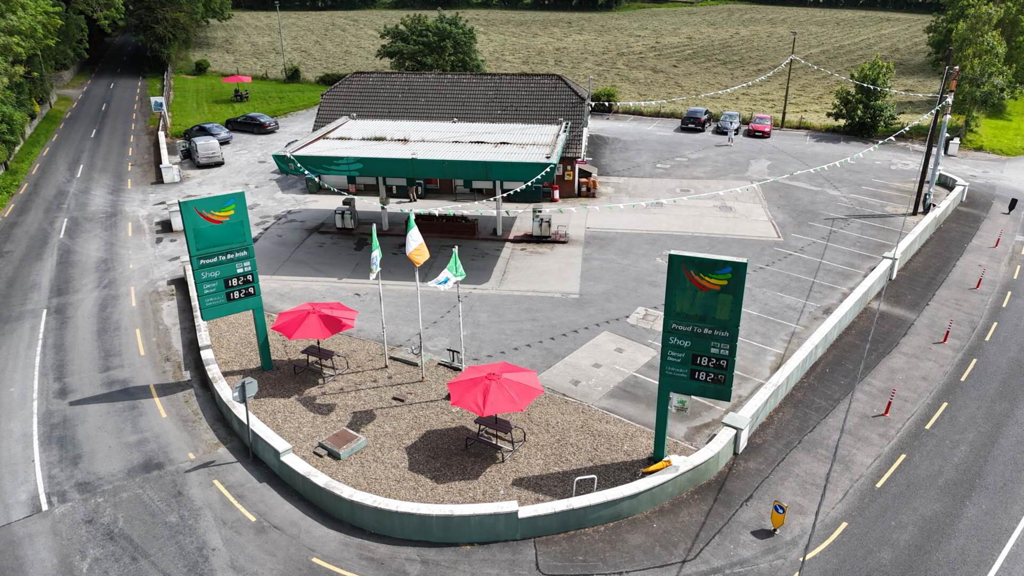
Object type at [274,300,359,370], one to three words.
umbrella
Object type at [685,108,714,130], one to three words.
car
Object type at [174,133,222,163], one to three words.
van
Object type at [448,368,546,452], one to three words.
umbrella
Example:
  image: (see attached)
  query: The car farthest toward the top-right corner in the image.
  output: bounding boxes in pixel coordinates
[749,113,776,137]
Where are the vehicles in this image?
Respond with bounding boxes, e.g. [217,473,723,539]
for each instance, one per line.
[174,133,222,163]
[228,112,278,132]
[749,113,776,137]
[187,121,239,141]
[717,110,744,134]
[685,108,714,130]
